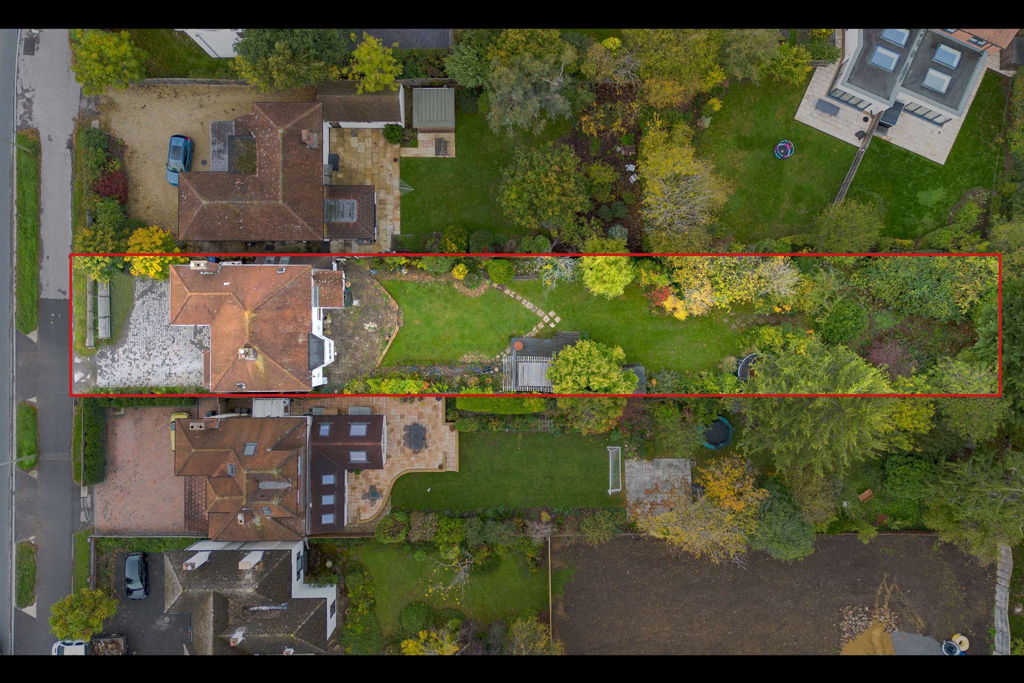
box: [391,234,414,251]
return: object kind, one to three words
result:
building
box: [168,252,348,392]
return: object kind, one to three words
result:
house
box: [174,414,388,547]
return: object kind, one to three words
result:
house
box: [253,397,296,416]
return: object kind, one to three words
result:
building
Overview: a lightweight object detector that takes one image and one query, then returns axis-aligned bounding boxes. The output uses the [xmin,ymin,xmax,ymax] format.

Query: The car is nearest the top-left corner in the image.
[164,134,194,186]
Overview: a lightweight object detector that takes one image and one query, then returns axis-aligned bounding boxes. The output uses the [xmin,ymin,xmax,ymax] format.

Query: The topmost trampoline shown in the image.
[774,139,795,159]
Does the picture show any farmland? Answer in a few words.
No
